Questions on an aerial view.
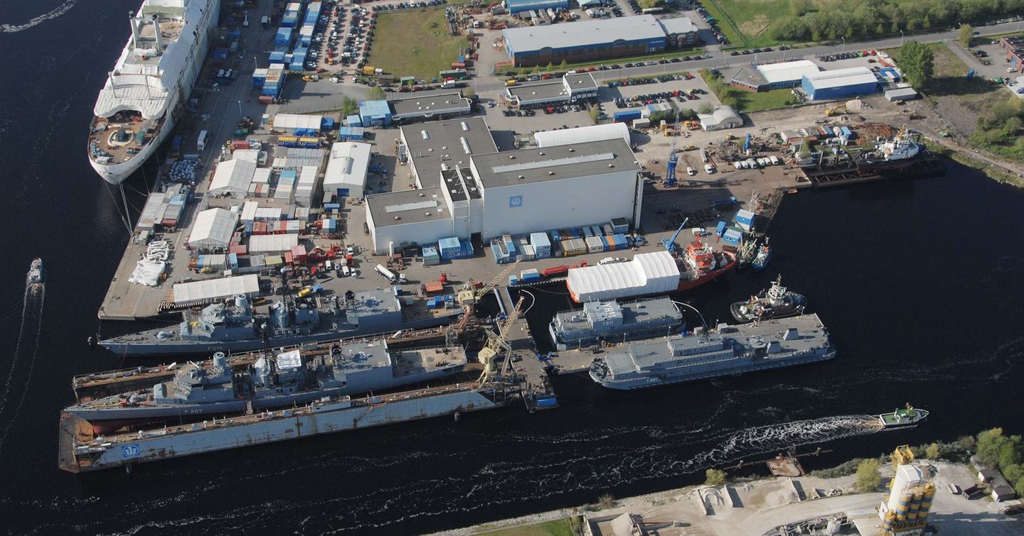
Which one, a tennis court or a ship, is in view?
ship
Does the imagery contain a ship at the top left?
Yes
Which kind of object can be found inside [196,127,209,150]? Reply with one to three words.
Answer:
vehicle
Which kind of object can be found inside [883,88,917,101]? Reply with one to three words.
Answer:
shed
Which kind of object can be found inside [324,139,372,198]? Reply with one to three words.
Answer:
building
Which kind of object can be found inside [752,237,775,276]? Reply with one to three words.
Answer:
boat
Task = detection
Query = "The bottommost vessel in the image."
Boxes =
[766,452,802,477]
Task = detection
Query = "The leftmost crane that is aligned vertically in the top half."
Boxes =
[662,109,681,190]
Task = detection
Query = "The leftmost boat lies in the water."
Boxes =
[27,256,43,286]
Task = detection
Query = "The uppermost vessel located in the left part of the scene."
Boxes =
[83,0,225,186]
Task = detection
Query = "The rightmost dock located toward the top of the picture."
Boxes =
[801,141,948,193]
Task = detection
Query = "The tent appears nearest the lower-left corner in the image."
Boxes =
[173,275,260,308]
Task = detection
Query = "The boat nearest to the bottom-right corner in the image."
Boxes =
[878,405,928,432]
